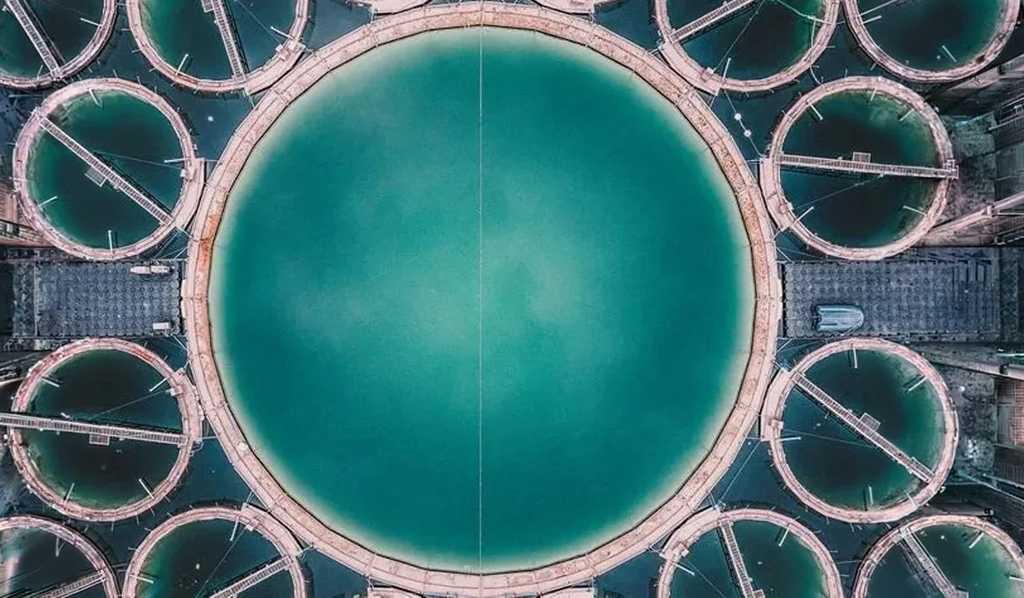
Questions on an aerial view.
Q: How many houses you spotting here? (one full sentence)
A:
No houses are visible.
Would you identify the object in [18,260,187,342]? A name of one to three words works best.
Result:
pier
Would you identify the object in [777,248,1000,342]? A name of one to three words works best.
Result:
pier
